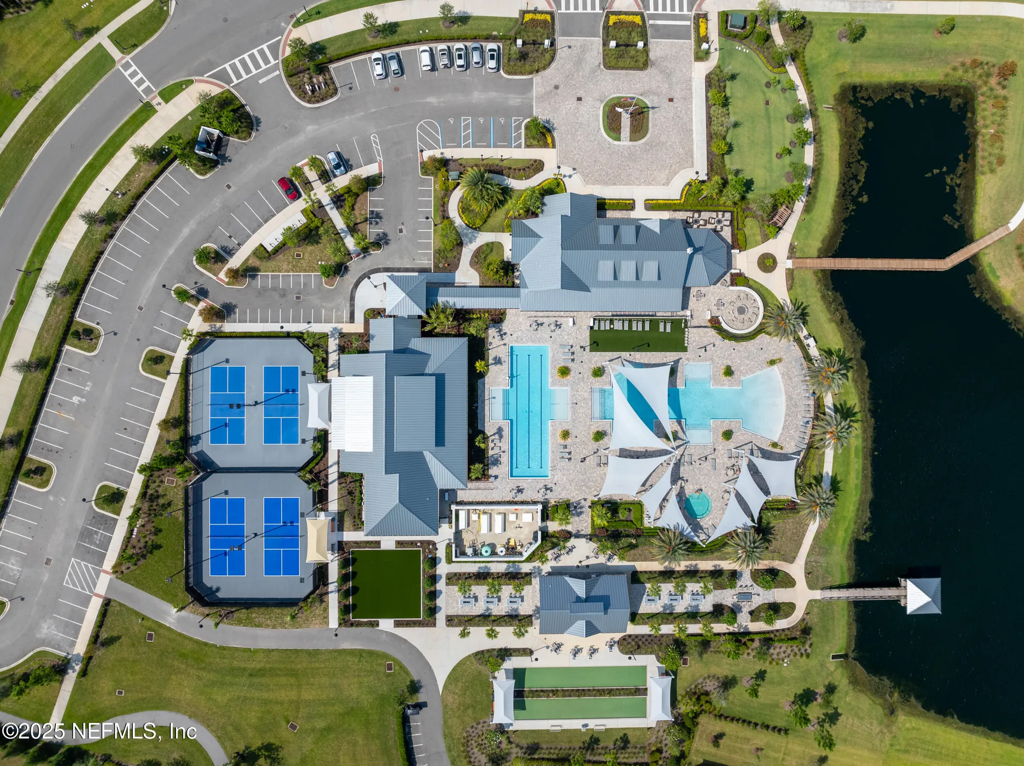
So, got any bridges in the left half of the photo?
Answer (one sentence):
No, in the left half of the photo there is no bridge.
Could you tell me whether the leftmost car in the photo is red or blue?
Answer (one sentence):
From above, the leftmost car appears red.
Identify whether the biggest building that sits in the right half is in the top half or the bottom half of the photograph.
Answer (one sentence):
Seen from above, the biggest building that sits in the right half lies in the top half of the view.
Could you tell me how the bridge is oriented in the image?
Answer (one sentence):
The bridge runs from side to side in the image.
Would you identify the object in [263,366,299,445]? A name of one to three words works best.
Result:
sports court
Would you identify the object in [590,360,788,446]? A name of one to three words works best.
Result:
swimming pool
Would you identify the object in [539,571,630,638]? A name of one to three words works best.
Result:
building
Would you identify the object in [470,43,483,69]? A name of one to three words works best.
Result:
vehicle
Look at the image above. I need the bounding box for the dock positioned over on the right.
[819,588,905,602]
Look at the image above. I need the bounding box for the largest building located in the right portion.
[512,192,727,312]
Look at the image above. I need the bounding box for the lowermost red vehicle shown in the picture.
[277,175,299,202]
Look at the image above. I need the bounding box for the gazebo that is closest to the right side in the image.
[897,575,942,615]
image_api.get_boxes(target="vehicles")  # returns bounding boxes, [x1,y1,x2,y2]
[407,704,421,716]
[485,44,499,74]
[327,148,346,178]
[277,175,299,202]
[371,52,386,81]
[418,45,433,75]
[453,44,467,73]
[437,44,451,71]
[387,51,402,80]
[470,43,483,69]
[800,332,818,349]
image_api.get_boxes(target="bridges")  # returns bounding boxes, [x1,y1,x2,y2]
[790,222,1017,271]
